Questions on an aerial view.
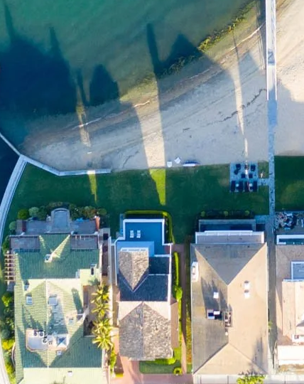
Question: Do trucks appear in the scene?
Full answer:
No, the frame has no truck in it.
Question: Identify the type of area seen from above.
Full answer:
This image shows a residential area.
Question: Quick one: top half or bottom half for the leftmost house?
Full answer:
The bottom half of the photo is where the leftmost house is.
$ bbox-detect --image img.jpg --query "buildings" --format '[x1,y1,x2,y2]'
[191,229,270,374]
[114,218,181,360]
[14,231,112,384]
[275,231,304,365]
